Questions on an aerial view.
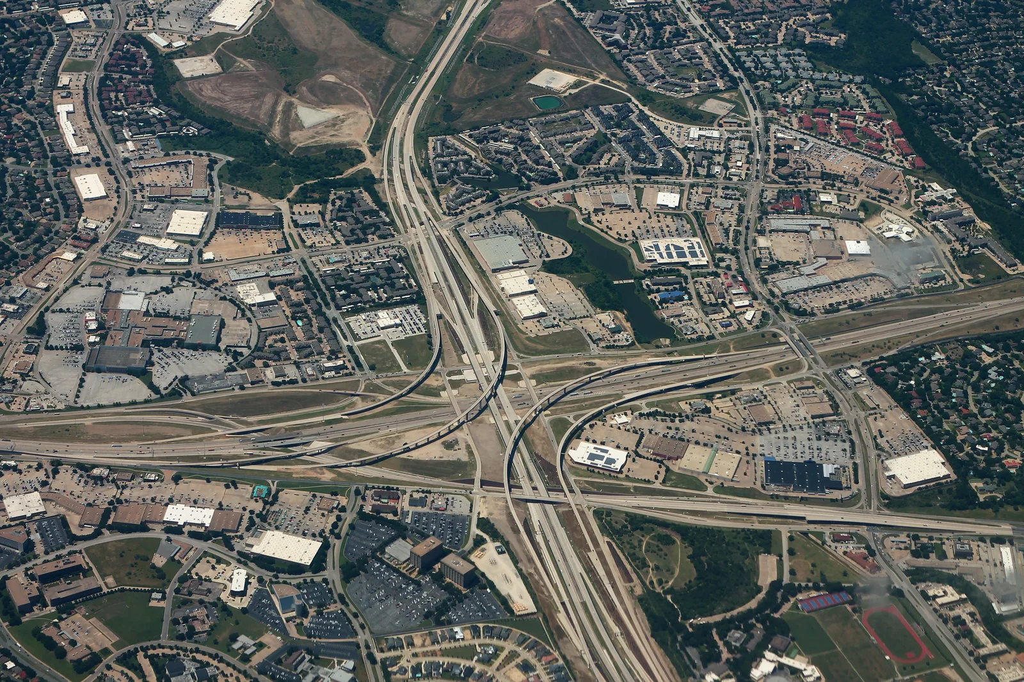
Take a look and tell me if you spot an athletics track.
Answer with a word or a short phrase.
Yes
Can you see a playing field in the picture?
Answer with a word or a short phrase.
Yes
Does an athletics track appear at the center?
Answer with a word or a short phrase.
No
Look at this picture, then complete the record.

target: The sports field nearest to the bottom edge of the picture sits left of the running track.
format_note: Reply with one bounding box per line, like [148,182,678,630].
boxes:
[811,652,861,682]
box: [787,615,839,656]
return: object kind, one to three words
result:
sports field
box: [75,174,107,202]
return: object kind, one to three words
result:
building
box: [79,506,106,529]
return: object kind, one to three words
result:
building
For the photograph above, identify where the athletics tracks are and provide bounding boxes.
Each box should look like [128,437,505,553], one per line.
[863,604,940,667]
